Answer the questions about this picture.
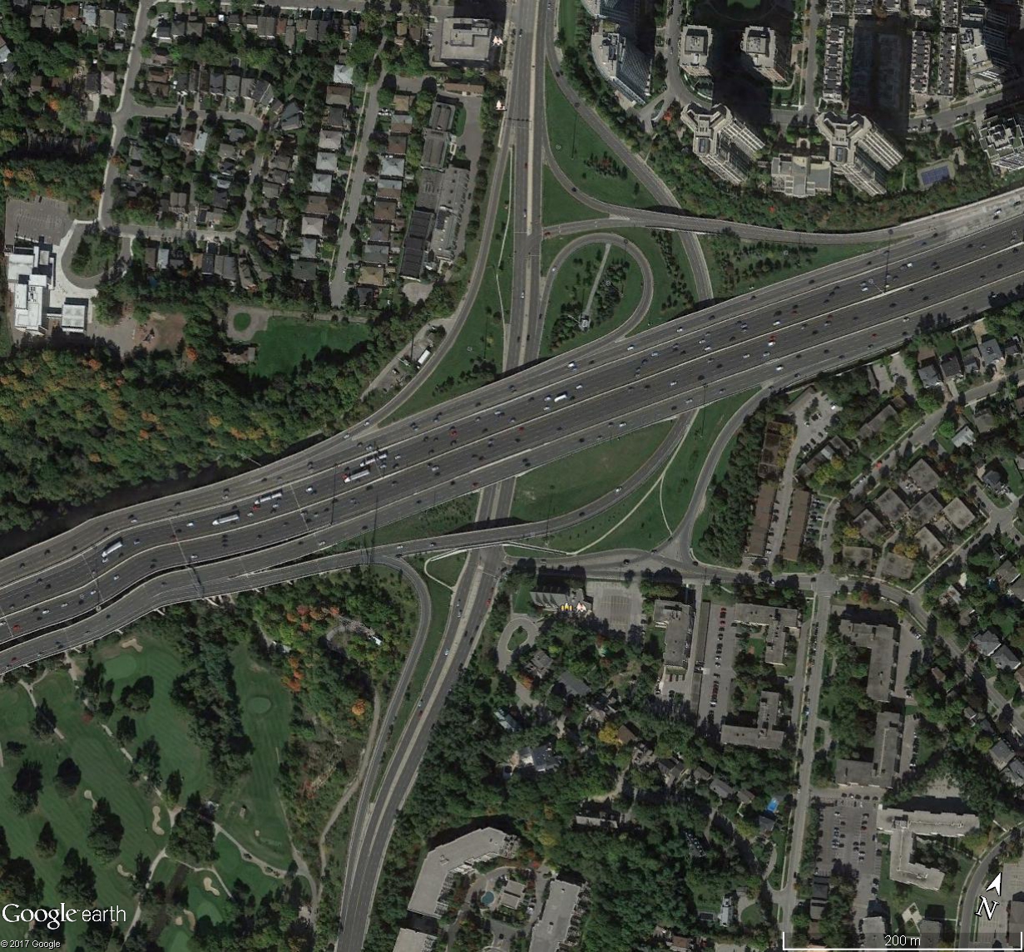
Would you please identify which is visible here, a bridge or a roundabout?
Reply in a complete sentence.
There is a bridge in the scene.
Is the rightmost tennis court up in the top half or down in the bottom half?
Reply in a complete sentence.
The top half of the photo is where the rightmost tennis court is.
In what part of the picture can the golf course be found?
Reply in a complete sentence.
The golf course is located in the bottom left region of the scene.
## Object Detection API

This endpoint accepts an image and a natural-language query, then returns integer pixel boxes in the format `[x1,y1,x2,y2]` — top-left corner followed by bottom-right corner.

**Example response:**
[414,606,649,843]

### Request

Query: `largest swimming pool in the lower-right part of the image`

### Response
[766,793,782,818]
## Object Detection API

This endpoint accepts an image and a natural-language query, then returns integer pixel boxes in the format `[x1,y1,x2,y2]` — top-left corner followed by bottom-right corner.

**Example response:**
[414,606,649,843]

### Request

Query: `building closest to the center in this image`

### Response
[530,588,593,615]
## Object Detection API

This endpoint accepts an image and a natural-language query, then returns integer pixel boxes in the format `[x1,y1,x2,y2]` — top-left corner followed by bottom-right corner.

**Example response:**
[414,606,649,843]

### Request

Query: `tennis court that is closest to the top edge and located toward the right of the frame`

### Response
[919,161,956,190]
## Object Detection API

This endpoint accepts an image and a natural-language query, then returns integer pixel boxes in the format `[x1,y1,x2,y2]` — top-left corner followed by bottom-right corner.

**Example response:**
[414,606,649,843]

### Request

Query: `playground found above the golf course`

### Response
[135,313,185,351]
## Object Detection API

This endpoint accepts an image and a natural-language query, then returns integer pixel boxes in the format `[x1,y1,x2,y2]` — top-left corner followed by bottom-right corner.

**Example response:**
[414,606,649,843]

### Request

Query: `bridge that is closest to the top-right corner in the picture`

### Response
[617,206,741,231]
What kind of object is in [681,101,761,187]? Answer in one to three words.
building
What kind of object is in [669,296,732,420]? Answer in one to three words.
overpass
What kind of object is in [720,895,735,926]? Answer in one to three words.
house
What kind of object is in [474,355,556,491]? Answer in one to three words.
overpass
